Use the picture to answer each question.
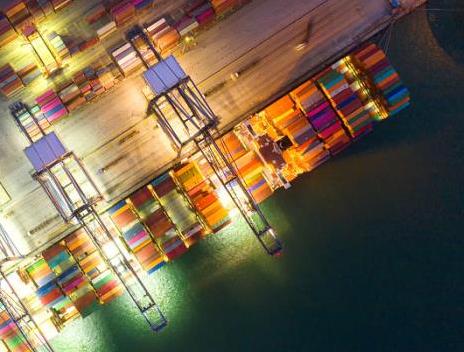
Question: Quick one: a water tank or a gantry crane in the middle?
gantry crane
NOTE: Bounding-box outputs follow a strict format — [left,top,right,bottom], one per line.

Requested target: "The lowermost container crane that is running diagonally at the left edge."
[10,104,167,332]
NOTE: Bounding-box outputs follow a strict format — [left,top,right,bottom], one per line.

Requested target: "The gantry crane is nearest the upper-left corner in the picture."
[21,25,65,80]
